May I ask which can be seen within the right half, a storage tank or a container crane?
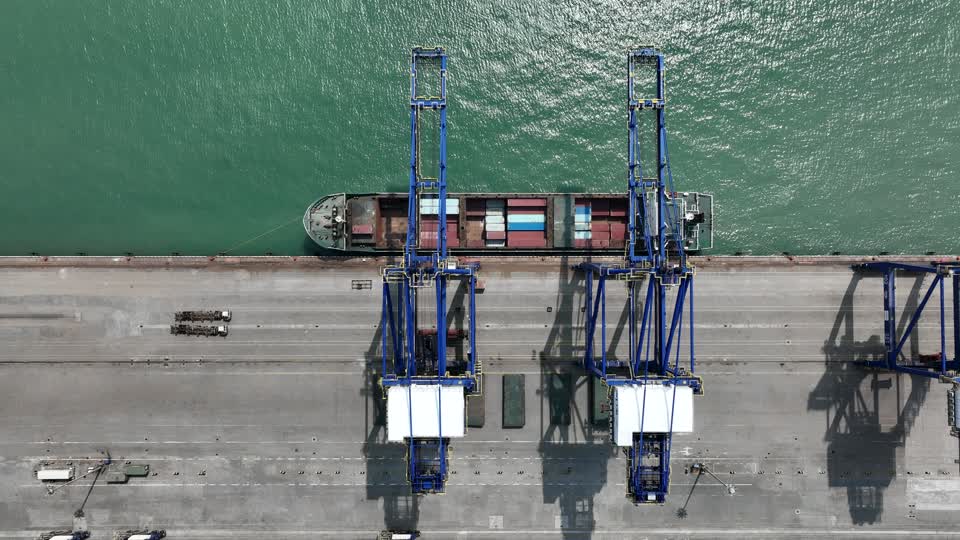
container crane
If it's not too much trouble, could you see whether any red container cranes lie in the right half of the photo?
No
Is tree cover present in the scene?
No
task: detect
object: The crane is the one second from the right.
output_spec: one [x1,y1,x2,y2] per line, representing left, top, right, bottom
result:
[571,43,712,502]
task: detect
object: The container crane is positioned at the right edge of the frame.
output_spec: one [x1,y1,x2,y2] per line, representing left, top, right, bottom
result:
[851,247,960,488]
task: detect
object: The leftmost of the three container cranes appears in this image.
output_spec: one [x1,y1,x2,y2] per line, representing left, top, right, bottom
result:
[375,43,486,491]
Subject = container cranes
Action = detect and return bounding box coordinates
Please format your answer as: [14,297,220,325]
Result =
[571,43,712,502]
[851,247,960,488]
[375,43,486,491]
